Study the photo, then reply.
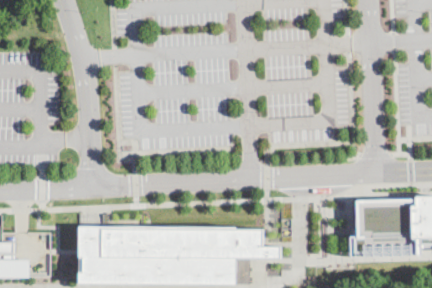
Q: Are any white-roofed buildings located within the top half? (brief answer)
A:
No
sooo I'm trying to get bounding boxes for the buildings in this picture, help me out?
[77,226,282,286]
[0,237,30,280]
[349,196,432,257]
